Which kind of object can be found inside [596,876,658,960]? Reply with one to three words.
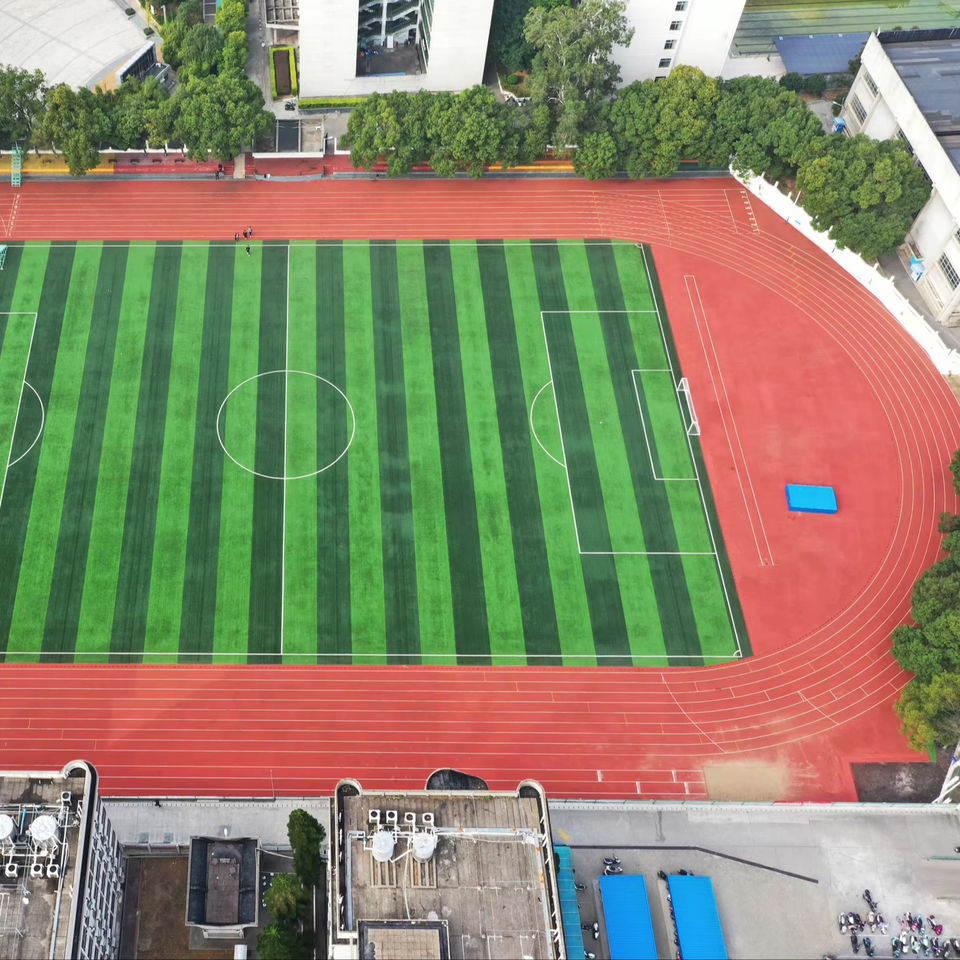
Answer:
shed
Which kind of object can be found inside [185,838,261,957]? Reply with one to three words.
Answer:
building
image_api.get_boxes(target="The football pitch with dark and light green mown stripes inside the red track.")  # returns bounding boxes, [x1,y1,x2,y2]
[0,239,756,668]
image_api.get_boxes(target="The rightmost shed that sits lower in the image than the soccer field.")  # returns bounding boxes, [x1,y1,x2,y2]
[664,877,728,960]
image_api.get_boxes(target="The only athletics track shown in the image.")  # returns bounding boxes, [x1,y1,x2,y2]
[0,177,960,800]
